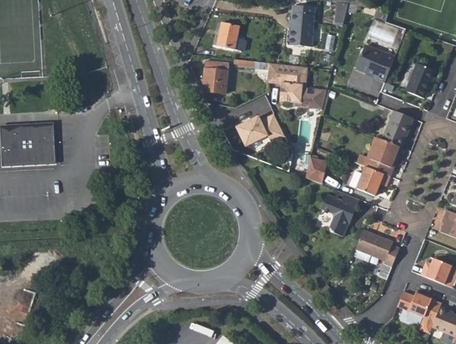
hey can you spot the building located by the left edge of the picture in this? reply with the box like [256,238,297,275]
[0,122,57,168]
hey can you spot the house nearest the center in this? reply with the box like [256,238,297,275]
[236,114,286,146]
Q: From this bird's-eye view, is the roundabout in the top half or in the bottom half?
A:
bottom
